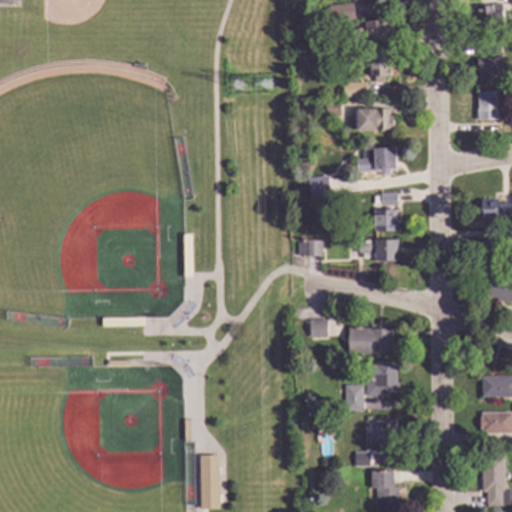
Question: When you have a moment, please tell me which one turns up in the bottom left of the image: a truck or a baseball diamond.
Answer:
baseball diamond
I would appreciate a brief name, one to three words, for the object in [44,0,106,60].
baseball field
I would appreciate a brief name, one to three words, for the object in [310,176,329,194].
building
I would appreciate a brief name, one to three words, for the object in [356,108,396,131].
house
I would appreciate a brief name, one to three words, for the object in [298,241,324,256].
house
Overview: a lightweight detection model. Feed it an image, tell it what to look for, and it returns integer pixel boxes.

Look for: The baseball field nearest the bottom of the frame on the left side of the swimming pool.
[0,367,185,512]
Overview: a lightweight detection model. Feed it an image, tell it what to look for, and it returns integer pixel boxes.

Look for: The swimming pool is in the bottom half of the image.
[316,432,334,458]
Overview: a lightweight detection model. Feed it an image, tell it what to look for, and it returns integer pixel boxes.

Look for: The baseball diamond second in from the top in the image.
[0,59,184,318]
